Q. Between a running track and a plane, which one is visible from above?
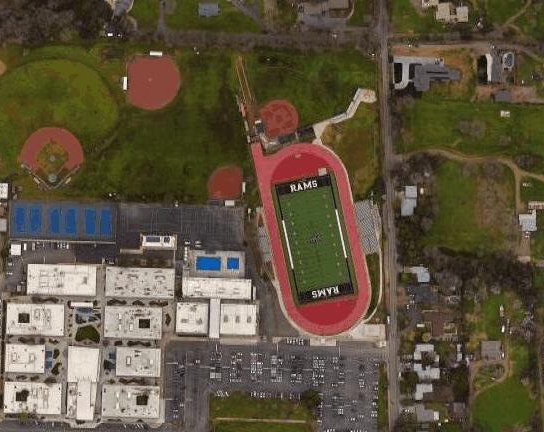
running track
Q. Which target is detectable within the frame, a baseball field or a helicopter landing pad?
baseball field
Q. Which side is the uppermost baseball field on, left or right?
left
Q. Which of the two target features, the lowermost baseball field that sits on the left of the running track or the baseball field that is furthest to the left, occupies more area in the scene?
the baseball field that is furthest to the left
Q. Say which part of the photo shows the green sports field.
center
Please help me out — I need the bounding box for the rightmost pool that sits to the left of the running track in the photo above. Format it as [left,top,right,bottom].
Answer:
[227,258,239,271]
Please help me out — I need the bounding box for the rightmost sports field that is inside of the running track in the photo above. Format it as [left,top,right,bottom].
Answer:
[272,173,358,306]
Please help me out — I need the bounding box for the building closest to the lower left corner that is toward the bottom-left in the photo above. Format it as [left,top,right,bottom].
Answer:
[3,383,62,414]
